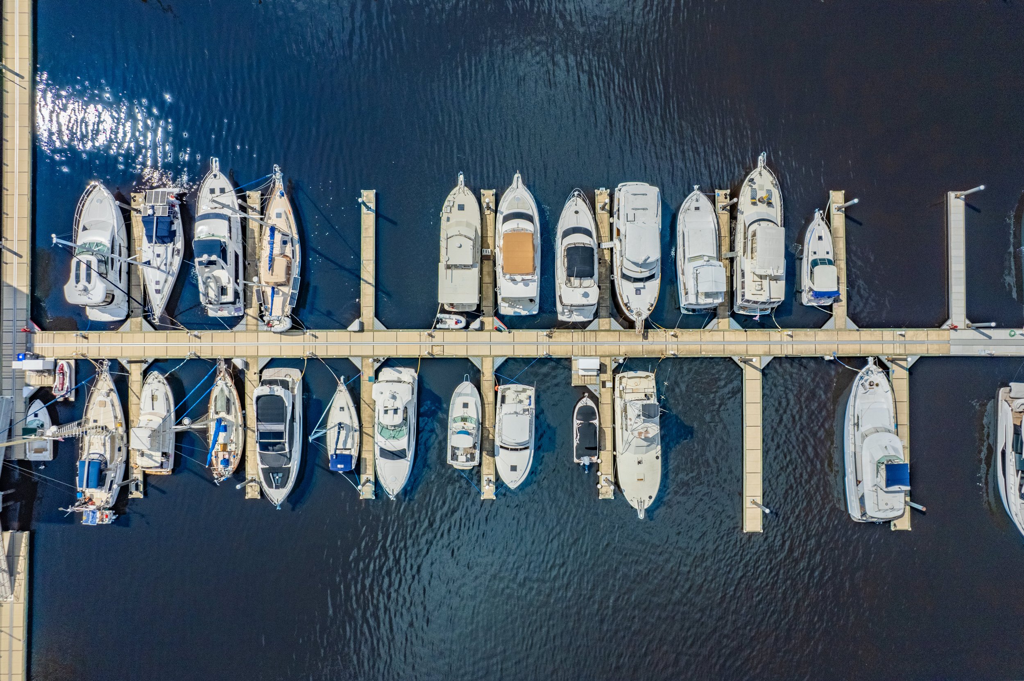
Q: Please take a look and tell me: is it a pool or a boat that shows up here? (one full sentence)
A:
Looking from above, you can make out a boat.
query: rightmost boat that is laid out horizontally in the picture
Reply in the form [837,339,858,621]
[433,314,466,329]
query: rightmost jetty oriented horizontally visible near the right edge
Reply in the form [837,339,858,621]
[950,328,1024,356]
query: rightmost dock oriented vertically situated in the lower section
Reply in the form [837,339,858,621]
[877,356,922,531]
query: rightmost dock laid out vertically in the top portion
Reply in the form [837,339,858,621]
[937,191,975,328]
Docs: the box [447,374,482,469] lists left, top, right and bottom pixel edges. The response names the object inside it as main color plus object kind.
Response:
white boat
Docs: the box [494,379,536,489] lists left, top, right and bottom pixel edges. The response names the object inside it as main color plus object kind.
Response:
white boat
